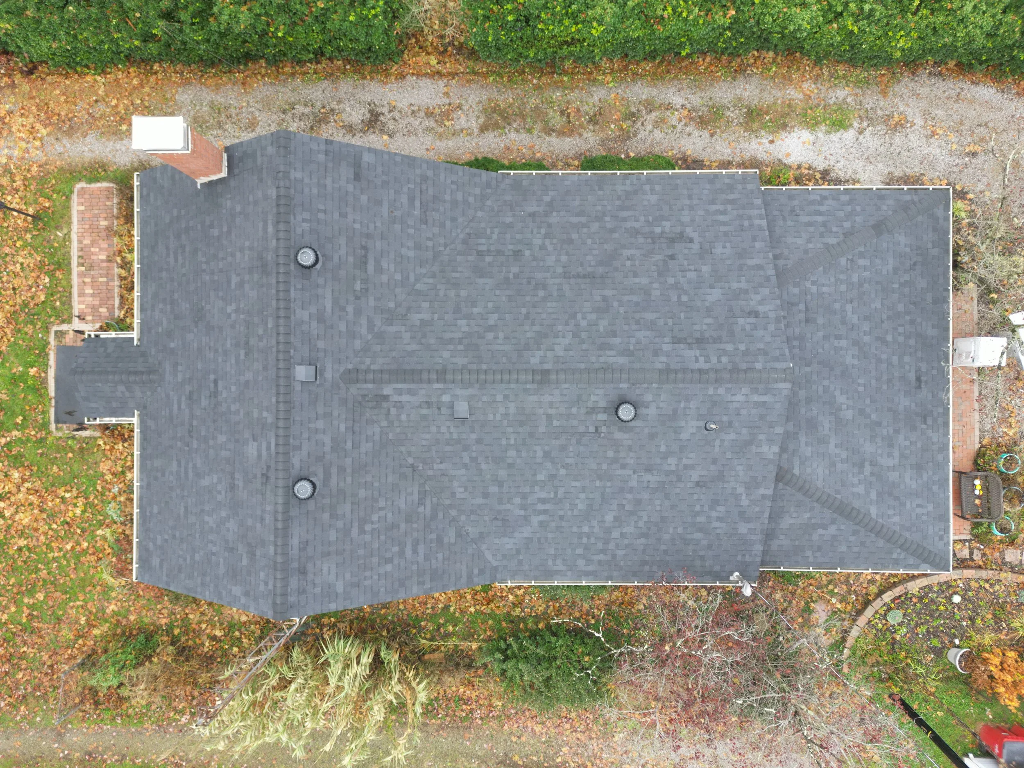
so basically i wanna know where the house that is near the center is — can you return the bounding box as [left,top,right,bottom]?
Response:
[54,113,952,622]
